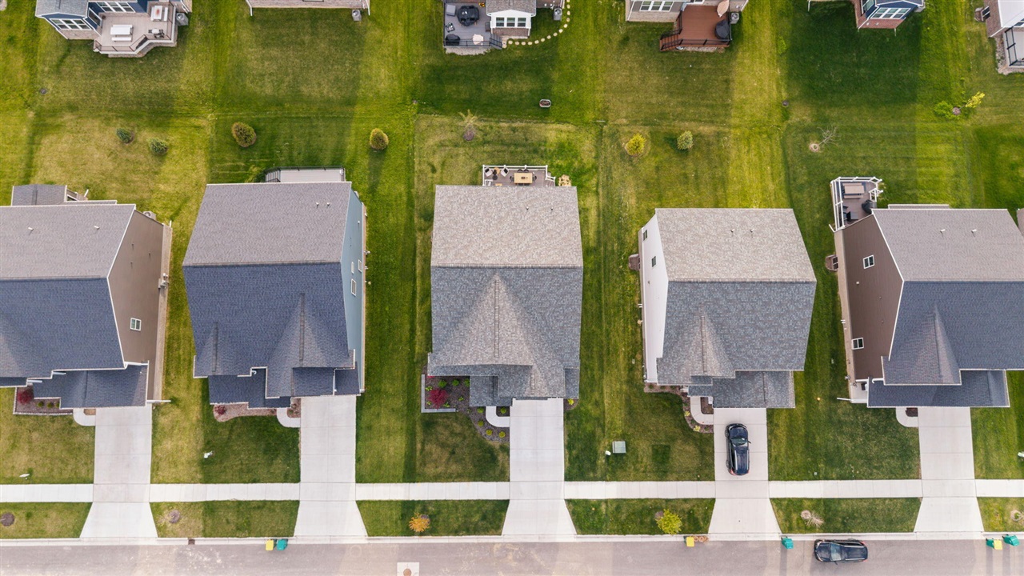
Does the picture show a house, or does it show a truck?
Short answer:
house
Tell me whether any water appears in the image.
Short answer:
No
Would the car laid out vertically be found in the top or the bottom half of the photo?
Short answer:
bottom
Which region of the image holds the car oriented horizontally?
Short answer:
bottom right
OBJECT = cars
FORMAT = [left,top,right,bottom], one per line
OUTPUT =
[724,421,752,478]
[812,540,872,568]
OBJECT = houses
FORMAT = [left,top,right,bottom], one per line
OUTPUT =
[803,0,924,36]
[247,0,368,16]
[35,0,189,40]
[0,180,175,409]
[179,182,368,409]
[443,0,564,38]
[984,0,1024,35]
[641,206,818,409]
[626,0,753,22]
[427,184,584,407]
[832,203,1024,408]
